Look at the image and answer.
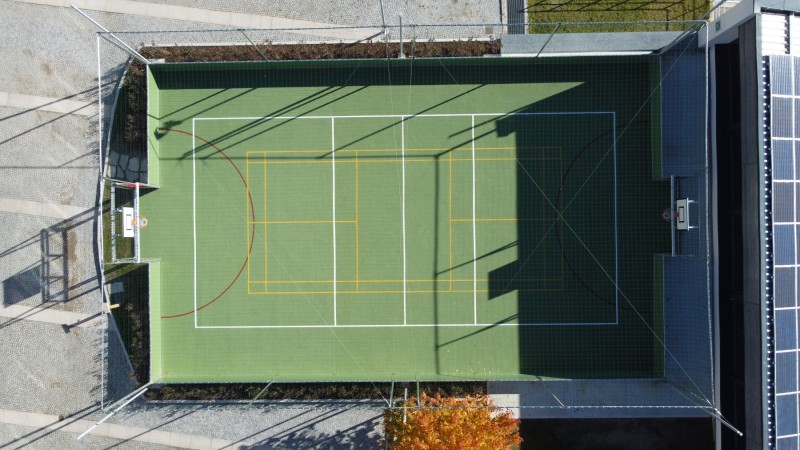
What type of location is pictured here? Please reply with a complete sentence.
This image shows a sports ground.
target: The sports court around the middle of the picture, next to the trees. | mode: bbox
[138,60,674,376]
